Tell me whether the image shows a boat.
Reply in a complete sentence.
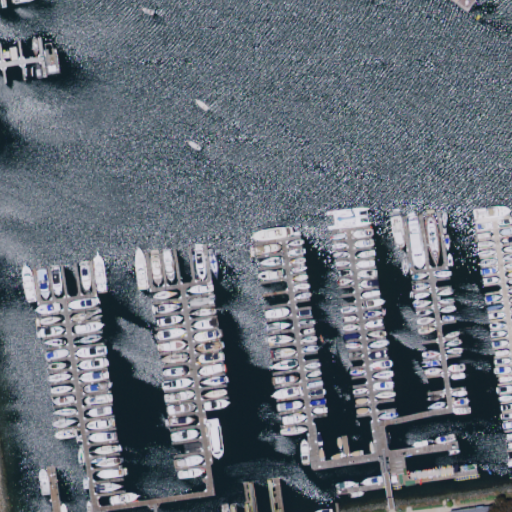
Yes, a boat appears in the view.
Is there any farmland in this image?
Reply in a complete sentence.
No, there's no farmland in this view.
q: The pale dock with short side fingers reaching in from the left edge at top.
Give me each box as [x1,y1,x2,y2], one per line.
[0,36,48,84]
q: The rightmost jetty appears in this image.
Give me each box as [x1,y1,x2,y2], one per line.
[474,216,512,470]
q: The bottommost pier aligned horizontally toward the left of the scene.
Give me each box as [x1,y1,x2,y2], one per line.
[92,492,216,512]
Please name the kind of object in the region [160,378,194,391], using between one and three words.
boat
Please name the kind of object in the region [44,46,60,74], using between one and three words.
ship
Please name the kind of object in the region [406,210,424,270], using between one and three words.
boat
